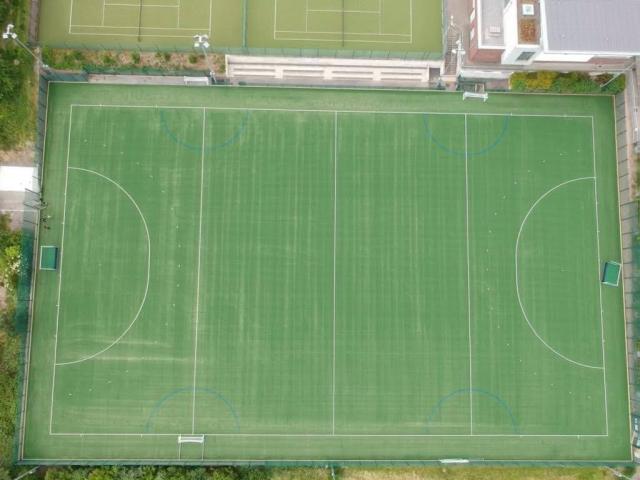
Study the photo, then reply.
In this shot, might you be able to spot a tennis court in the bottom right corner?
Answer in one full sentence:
No, looking in the bottom right corner, there is no tennis court.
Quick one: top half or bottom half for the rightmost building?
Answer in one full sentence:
The rightmost building sits in the top half of the picture.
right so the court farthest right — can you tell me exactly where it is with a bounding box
[244,0,441,59]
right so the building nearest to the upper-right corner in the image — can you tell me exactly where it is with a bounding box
[532,0,640,64]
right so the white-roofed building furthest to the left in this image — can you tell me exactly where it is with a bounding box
[469,0,506,61]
